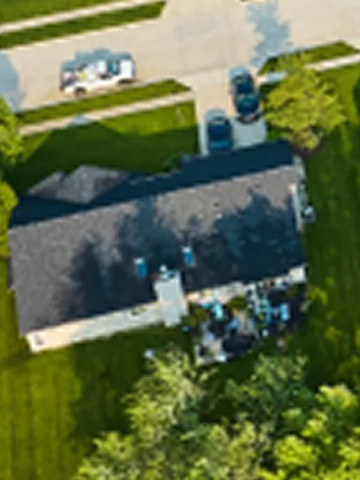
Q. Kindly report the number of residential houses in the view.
one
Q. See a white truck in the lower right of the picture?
No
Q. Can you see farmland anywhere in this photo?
No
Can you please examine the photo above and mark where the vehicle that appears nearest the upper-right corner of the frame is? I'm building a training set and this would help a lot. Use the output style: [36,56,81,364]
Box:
[229,70,262,126]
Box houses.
[6,124,316,352]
